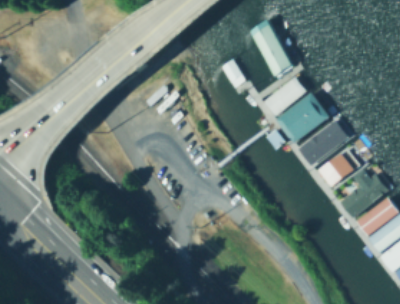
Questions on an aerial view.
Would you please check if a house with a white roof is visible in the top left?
No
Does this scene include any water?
Yes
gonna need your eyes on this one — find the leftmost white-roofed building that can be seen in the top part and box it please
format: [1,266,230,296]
[223,59,248,88]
